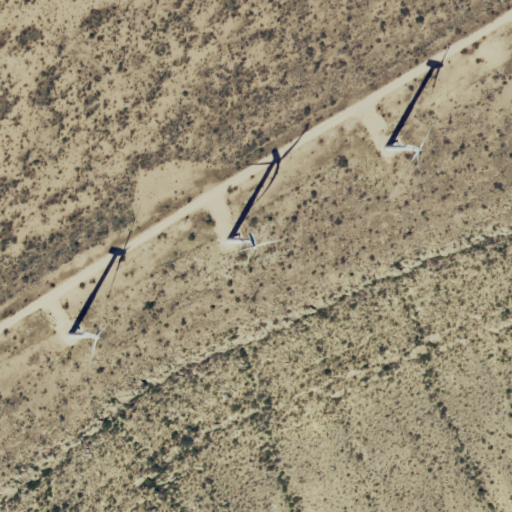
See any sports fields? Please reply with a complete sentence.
No, the frame has no sports field in it.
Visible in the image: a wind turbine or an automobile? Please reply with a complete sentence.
Looking from above, you can make out a wind turbine.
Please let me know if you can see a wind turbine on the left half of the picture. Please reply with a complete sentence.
Yes, there is a wind turbine on the left half of the picture.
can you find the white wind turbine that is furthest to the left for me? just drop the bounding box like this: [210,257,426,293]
[64,307,104,370]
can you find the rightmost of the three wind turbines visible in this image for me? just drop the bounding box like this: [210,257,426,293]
[382,118,432,179]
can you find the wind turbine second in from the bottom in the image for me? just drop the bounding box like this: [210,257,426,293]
[222,233,286,260]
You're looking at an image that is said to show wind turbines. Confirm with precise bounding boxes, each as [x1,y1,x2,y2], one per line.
[382,118,432,179]
[64,307,104,370]
[222,233,286,260]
